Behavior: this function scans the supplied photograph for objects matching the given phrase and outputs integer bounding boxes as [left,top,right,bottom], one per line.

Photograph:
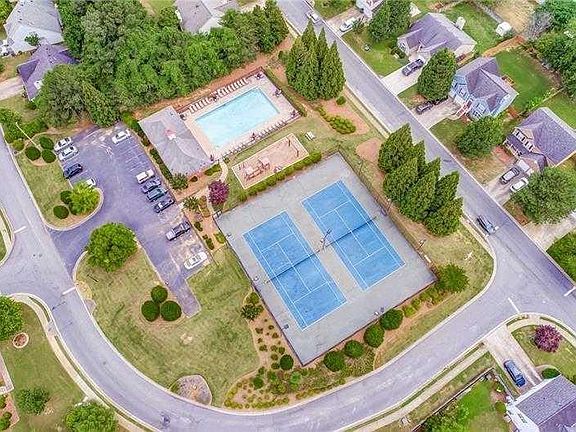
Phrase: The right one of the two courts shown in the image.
[301,179,406,291]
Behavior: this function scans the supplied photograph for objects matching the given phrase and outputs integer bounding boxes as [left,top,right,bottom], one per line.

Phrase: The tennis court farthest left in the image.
[243,210,348,331]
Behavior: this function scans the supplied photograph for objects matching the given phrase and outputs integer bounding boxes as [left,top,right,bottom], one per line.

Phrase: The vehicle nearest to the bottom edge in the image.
[502,361,526,388]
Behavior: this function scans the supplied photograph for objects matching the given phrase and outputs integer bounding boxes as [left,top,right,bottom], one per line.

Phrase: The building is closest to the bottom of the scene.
[505,370,576,432]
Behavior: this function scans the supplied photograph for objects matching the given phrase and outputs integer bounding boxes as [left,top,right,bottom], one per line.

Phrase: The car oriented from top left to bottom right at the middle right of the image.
[476,215,497,236]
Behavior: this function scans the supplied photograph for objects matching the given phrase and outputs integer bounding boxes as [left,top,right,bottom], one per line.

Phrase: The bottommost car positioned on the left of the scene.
[184,251,207,269]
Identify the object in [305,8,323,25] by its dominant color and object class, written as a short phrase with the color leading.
white vehicle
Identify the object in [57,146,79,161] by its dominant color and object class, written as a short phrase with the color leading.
white car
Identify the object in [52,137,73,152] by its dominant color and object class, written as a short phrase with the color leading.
white car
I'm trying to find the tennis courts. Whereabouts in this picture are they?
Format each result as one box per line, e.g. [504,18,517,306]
[301,179,406,291]
[243,210,348,331]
